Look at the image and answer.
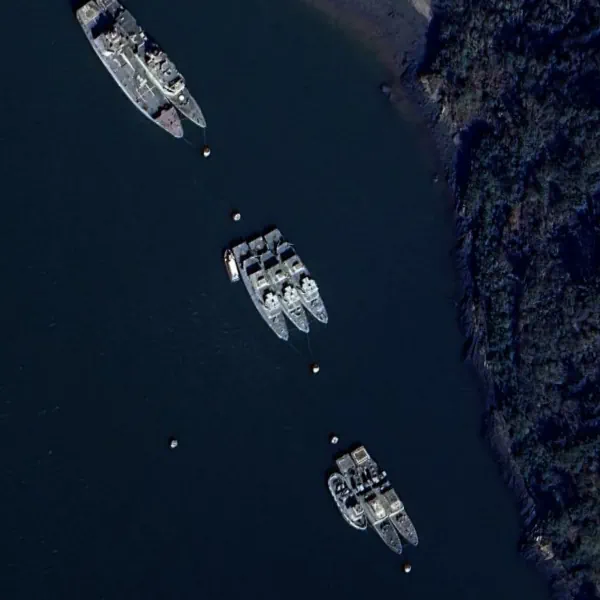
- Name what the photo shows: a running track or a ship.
ship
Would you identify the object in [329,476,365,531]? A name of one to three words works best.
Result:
boat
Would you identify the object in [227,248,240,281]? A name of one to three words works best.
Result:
boat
